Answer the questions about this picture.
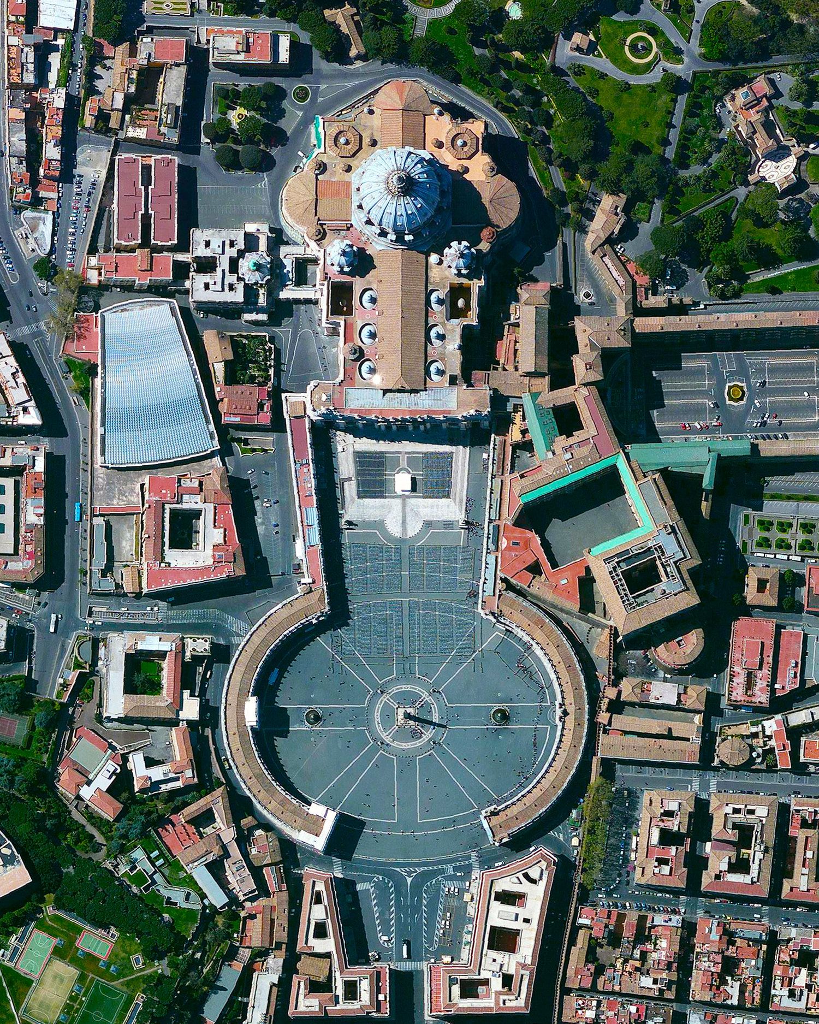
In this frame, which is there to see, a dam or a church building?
church building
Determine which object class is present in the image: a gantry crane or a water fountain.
water fountain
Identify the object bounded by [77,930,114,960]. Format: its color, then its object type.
green sports court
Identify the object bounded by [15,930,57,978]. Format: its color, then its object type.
green basketball court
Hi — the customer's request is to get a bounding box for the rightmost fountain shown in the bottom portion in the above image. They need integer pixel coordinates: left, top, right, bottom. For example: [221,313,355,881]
[489,705,511,727]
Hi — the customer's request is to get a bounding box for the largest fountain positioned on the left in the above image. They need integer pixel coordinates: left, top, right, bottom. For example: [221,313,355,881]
[302,706,324,728]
